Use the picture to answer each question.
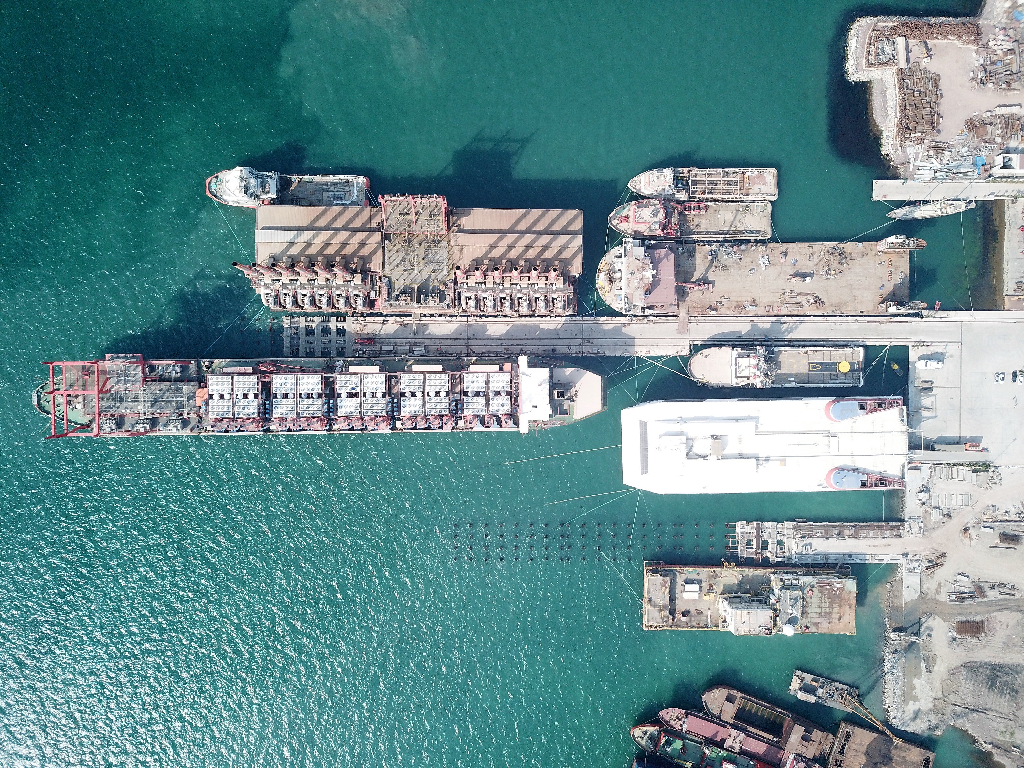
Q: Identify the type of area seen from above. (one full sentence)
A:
The area seen from above is a port.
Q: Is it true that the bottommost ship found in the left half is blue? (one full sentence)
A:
No, the color of the bottommost ship found in the left half is white.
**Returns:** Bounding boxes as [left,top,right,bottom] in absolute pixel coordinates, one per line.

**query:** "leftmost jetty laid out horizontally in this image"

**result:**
[270,317,353,357]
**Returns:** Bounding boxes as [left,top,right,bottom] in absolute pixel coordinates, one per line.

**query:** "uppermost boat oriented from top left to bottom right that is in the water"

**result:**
[891,362,904,377]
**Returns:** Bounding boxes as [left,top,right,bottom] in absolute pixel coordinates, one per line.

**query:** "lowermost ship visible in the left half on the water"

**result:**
[32,353,608,437]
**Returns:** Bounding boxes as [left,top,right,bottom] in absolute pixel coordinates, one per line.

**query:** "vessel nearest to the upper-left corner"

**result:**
[205,167,372,210]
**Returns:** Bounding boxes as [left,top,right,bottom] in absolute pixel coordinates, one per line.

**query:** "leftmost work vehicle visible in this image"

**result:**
[888,630,923,643]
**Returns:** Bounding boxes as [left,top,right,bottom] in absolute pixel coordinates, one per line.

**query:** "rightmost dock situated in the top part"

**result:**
[871,176,1024,201]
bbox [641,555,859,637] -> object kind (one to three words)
ship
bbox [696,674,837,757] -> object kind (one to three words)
ship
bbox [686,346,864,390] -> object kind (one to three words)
vessel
